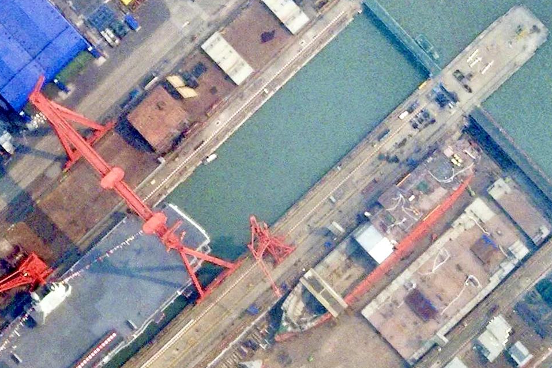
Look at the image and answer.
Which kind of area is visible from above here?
port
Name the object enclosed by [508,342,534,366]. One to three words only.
shed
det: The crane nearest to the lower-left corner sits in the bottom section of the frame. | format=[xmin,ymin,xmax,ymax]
[0,251,57,292]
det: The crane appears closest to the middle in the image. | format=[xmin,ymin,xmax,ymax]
[248,217,294,302]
